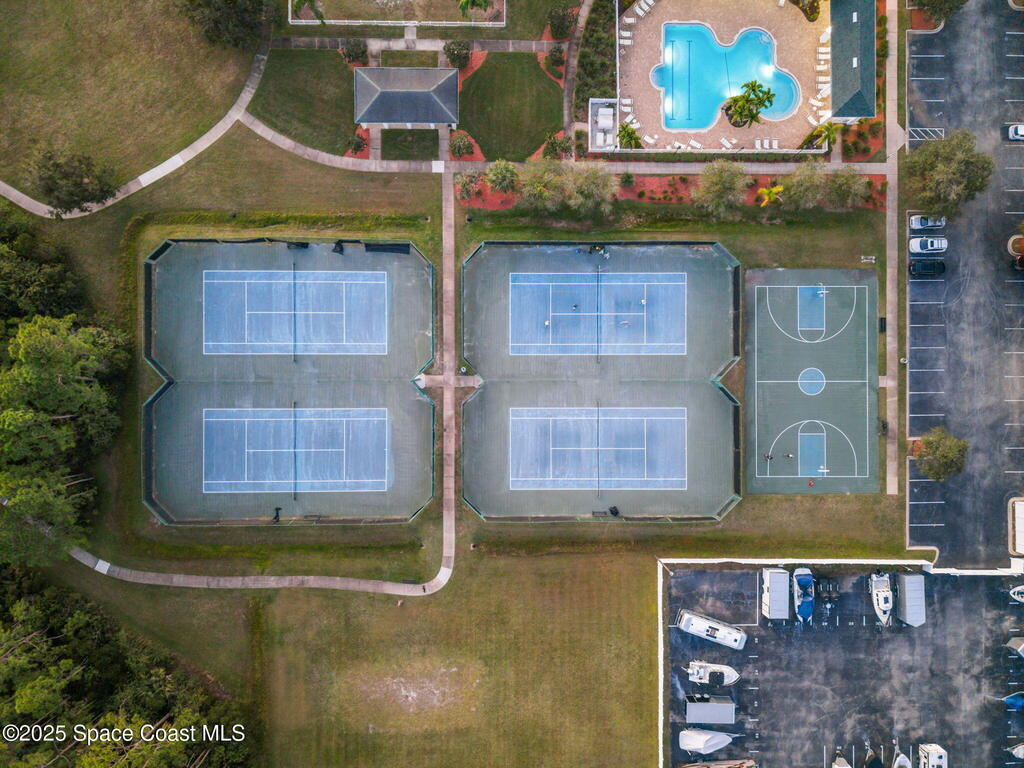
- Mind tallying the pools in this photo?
1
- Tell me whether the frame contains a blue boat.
Yes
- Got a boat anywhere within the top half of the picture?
No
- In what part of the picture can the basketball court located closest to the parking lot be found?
right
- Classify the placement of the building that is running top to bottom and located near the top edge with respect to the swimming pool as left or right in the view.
on its right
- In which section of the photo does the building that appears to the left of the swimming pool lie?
top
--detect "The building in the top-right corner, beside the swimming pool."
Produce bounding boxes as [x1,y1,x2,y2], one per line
[826,0,876,133]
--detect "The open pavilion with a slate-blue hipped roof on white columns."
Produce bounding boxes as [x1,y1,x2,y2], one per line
[354,67,460,130]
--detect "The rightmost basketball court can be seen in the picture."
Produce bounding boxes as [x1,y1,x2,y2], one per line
[745,268,879,494]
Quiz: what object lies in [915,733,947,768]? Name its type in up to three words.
camper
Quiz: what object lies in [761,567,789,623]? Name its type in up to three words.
trailer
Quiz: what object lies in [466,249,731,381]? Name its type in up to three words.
tennis court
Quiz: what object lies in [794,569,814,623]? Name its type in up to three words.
boat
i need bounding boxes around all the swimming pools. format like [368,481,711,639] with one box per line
[648,20,804,133]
